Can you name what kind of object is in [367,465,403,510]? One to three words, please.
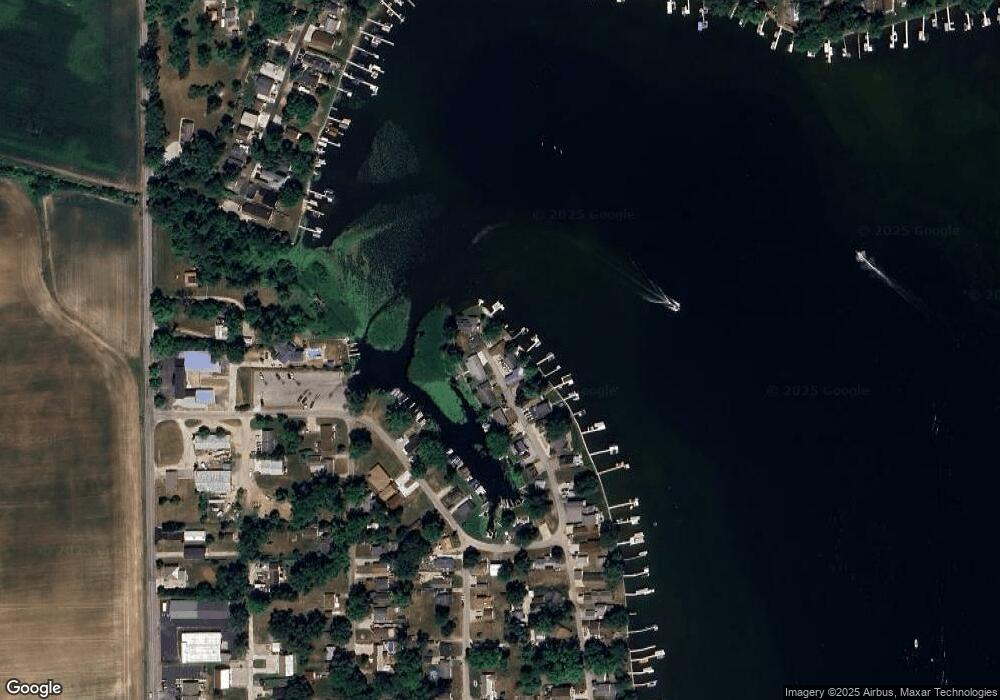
house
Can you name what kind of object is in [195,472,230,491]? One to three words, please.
building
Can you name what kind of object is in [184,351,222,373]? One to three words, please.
building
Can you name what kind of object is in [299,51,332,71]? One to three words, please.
house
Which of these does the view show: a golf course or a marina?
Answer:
marina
